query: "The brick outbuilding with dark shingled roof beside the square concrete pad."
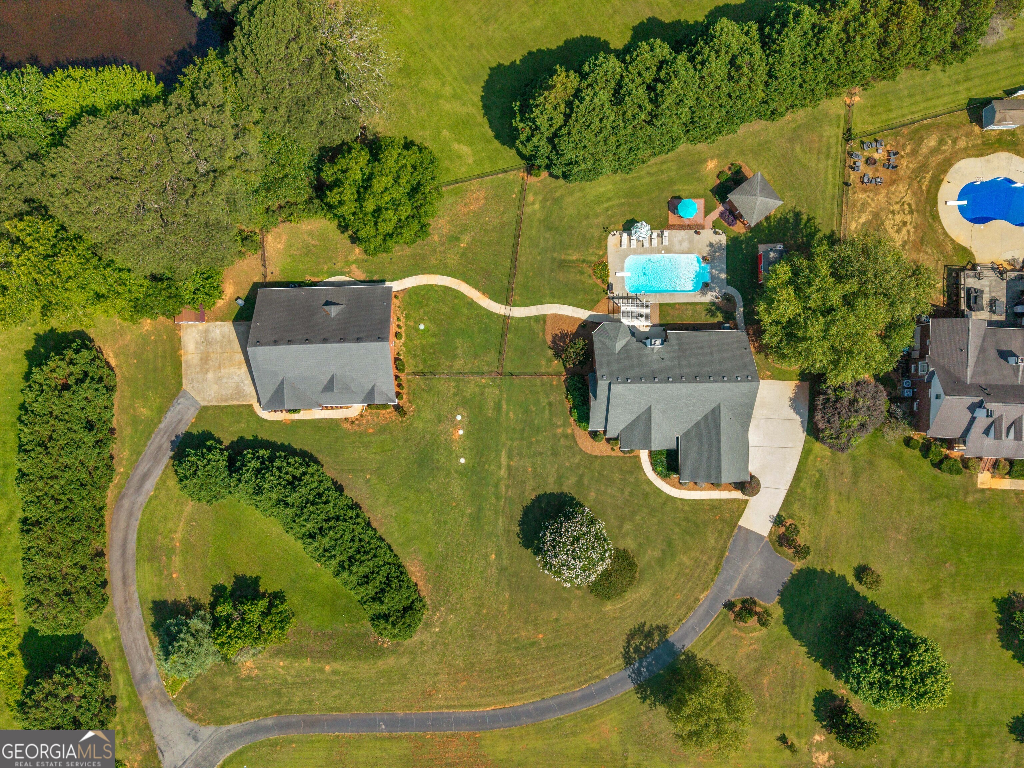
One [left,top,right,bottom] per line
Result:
[246,285,398,412]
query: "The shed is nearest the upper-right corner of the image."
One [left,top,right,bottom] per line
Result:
[983,100,1024,131]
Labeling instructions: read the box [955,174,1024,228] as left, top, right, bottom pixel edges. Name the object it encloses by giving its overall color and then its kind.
blue swimming pool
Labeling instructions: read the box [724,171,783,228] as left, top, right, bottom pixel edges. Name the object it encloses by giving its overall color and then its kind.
gray gazebo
